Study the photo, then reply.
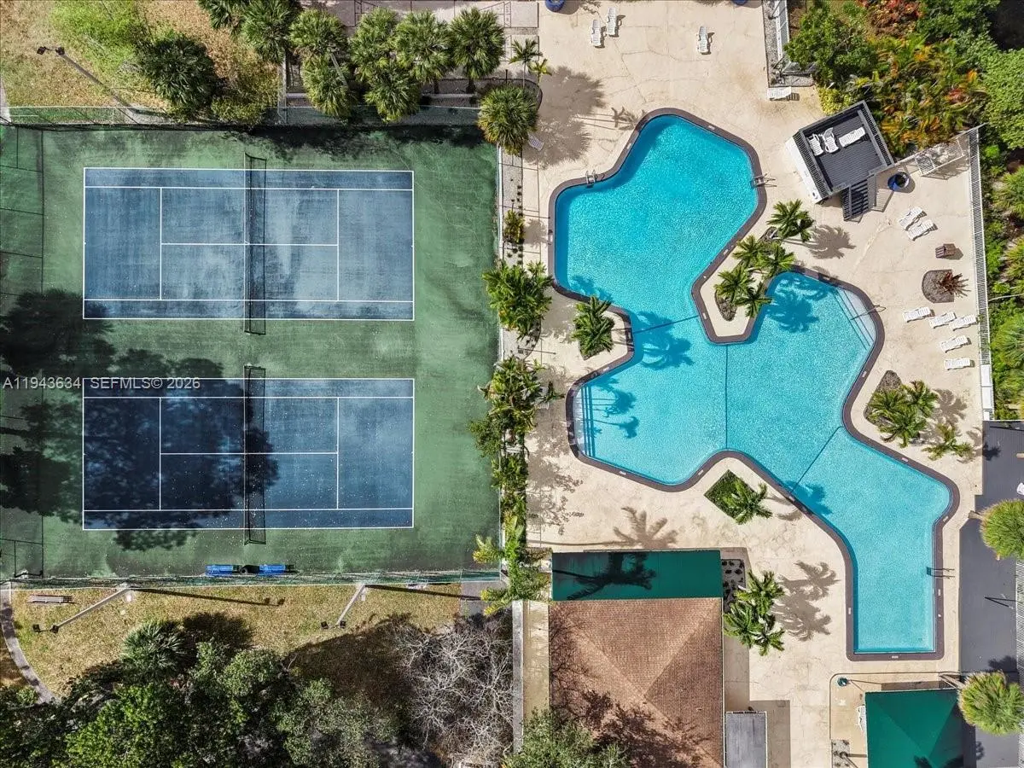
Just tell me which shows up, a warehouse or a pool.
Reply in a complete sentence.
Looking from above, you can make out a pool.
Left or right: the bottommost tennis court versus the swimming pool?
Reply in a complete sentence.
In the image, the bottommost tennis court sits on the left side of the swimming pool.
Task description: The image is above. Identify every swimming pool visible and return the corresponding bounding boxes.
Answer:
[547,108,958,662]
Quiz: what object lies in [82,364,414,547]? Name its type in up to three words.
tennis court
